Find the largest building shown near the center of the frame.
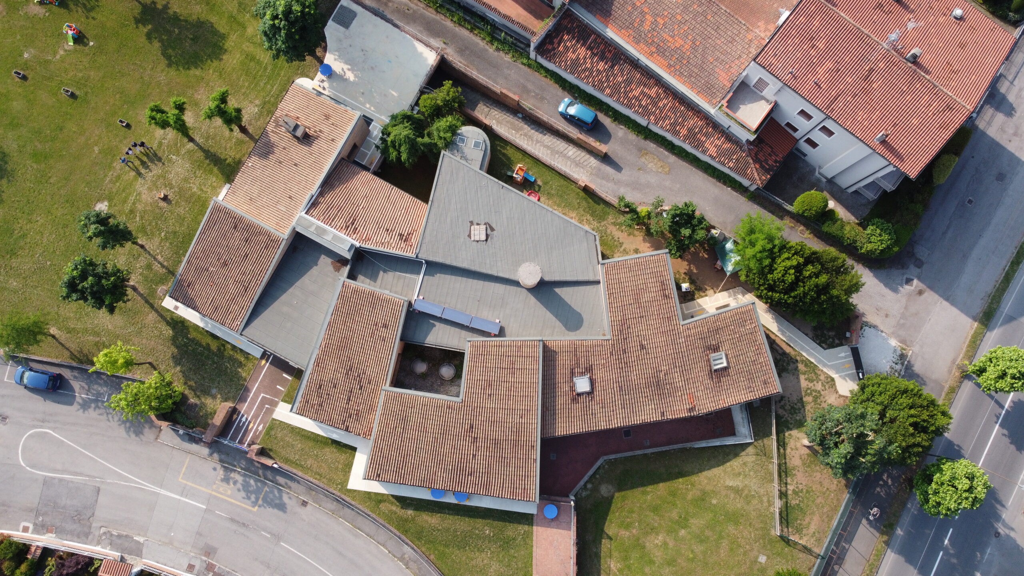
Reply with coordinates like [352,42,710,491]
[166,80,785,505]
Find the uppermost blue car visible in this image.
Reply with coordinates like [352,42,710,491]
[560,98,603,130]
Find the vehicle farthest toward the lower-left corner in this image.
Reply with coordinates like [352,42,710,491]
[11,368,60,392]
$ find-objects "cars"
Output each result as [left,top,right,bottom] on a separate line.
[11,368,60,392]
[560,98,603,130]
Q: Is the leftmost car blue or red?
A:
blue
